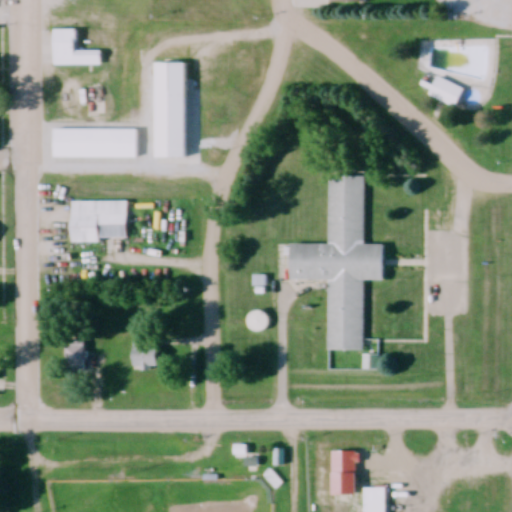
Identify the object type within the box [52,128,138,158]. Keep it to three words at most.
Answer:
barn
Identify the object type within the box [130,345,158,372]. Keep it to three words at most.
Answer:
house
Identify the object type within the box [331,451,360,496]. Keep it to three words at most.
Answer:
barn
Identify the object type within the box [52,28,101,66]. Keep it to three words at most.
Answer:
building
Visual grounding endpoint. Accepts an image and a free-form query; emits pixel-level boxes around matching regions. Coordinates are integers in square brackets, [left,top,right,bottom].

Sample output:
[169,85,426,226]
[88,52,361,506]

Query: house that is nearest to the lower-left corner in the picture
[64,342,84,370]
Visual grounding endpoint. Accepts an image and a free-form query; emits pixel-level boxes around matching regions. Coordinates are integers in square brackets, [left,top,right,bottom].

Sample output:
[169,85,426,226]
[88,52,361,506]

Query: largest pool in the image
[418,38,500,106]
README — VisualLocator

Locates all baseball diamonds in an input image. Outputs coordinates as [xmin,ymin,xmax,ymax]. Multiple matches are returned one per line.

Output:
[47,478,270,512]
